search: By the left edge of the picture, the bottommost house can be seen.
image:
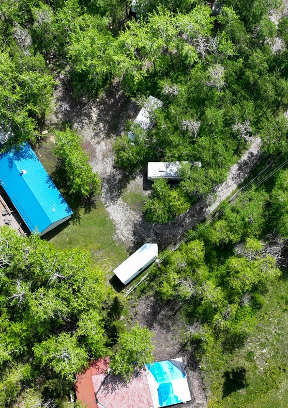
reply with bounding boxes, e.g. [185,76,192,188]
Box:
[0,143,72,235]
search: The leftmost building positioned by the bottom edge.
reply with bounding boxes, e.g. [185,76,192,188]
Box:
[76,356,154,408]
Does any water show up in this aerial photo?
No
